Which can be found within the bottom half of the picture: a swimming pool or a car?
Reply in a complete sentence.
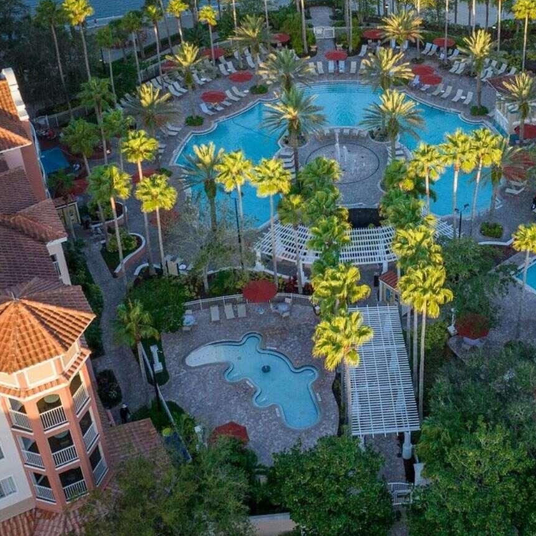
Visible within the bottom half of the picture is a swimming pool.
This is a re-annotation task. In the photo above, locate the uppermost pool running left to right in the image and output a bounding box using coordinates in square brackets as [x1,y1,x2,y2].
[171,79,508,232]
